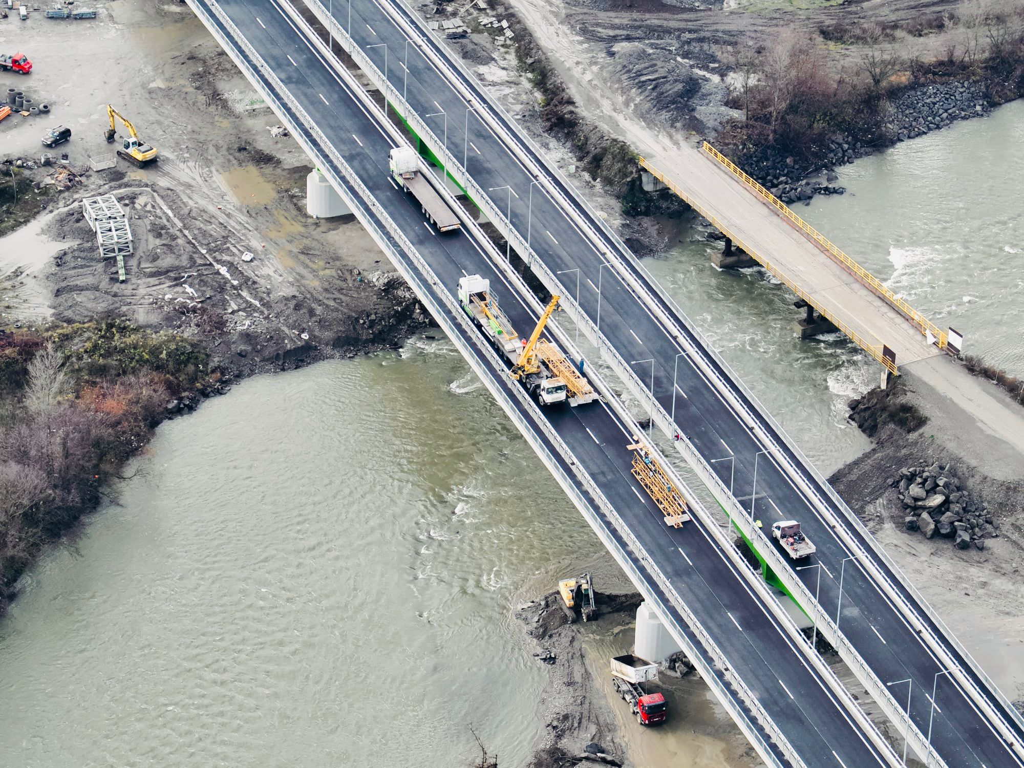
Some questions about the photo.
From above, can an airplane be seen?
No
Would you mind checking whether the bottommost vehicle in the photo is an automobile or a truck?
truck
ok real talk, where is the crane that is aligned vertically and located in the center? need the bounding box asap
[513,287,569,406]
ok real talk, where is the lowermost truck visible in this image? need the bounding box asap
[604,648,667,724]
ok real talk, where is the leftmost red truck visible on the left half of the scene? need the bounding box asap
[0,51,36,74]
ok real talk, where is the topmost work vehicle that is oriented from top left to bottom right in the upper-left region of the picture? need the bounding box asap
[101,103,155,165]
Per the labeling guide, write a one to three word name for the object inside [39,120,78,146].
car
